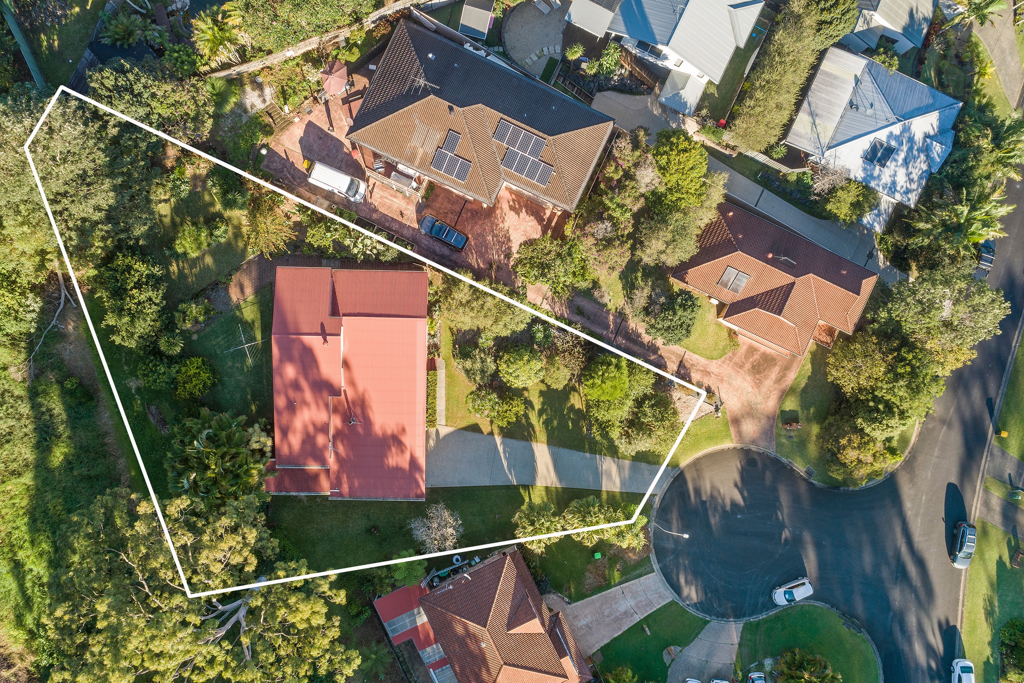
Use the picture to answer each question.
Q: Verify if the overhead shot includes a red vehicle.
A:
No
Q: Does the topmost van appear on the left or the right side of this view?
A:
left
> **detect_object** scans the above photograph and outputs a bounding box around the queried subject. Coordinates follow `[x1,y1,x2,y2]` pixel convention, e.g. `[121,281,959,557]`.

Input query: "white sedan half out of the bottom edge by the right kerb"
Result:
[950,655,976,683]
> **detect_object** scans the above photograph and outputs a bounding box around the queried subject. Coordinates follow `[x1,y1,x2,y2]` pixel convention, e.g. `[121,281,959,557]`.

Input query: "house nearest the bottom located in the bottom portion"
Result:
[417,548,594,683]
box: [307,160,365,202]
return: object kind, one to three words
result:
van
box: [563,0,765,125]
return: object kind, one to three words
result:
house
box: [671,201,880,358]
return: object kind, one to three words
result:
house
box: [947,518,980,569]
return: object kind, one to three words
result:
car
